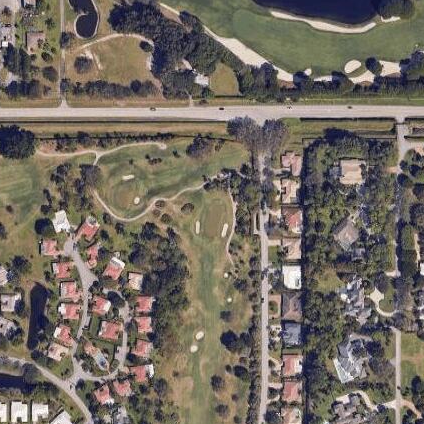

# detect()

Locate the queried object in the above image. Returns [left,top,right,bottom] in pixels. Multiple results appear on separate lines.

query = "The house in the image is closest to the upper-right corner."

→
[339,159,365,187]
